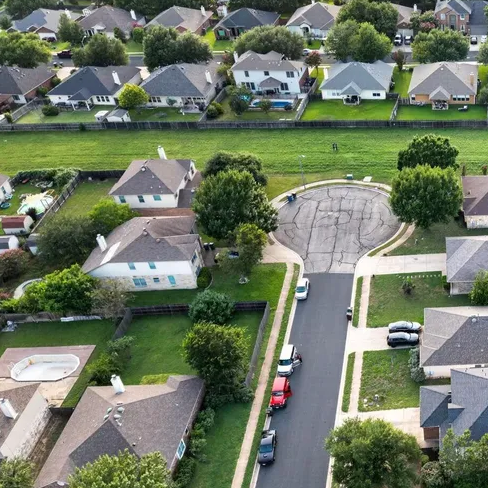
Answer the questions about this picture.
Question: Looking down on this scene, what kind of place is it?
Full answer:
This image shows a residential area.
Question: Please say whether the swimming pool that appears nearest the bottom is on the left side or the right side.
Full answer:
The swimming pool that appears nearest the bottom is on the left side of the image.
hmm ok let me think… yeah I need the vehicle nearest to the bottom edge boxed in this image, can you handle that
[254,424,280,466]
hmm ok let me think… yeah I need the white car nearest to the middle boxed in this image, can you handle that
[294,277,311,299]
